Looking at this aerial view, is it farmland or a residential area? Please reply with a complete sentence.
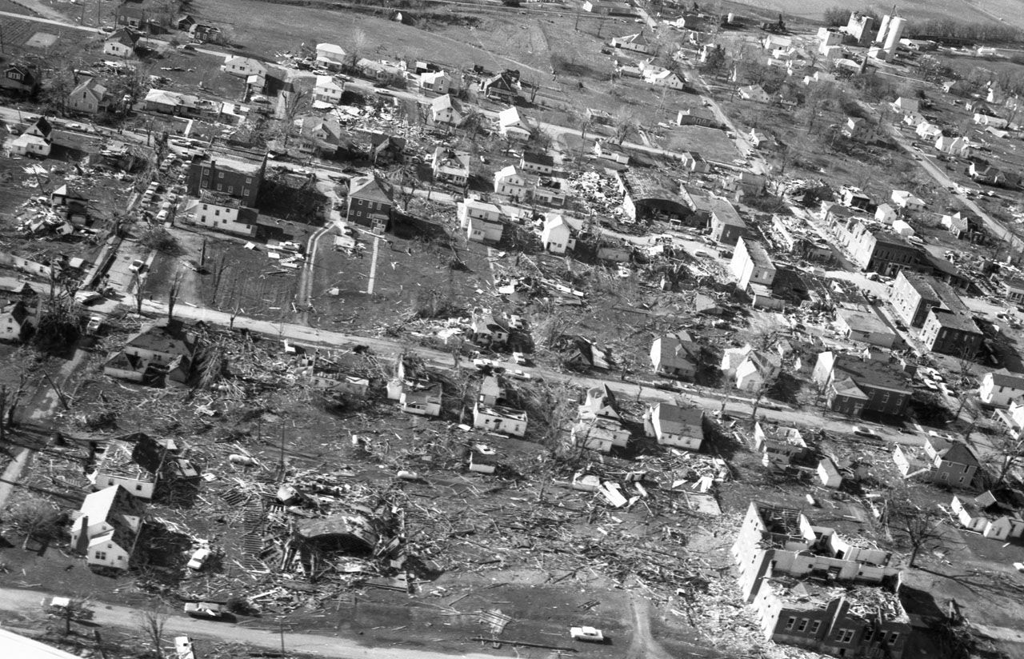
This image shows a residential area.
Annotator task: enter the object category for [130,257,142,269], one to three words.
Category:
vehicle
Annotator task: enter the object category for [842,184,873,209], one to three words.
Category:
barn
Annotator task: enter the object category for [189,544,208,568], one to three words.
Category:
car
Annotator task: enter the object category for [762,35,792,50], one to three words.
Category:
house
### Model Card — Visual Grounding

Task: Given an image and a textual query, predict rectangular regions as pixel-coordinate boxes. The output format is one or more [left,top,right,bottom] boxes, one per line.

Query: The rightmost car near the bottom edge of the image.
[571,624,603,639]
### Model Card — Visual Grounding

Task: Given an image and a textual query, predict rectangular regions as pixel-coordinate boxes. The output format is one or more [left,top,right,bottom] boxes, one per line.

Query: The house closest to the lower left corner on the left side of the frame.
[63,483,155,577]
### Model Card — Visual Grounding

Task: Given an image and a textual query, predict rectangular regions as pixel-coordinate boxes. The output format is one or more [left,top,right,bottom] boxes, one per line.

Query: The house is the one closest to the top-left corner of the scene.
[0,64,42,97]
